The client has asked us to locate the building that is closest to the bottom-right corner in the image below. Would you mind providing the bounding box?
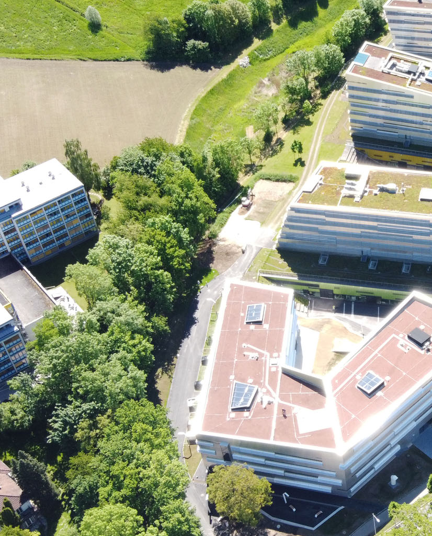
[191,282,432,500]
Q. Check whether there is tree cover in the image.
Yes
